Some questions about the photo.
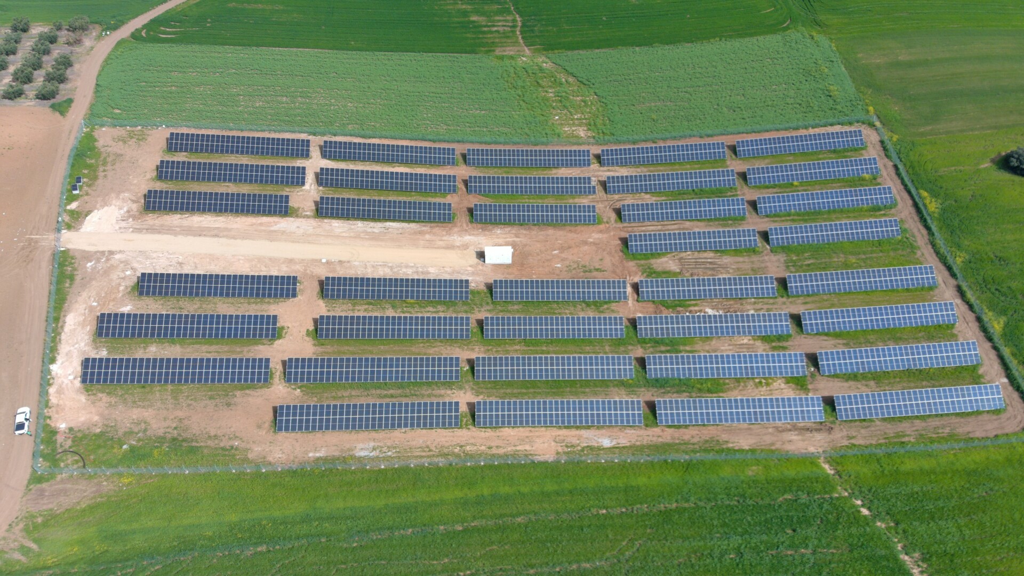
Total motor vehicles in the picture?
1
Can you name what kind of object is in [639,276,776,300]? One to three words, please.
solar array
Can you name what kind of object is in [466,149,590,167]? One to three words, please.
solar array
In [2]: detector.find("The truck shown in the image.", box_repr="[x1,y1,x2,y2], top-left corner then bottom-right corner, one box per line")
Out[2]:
[14,407,35,436]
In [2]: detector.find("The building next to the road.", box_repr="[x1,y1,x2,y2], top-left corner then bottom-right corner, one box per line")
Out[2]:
[484,245,513,264]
